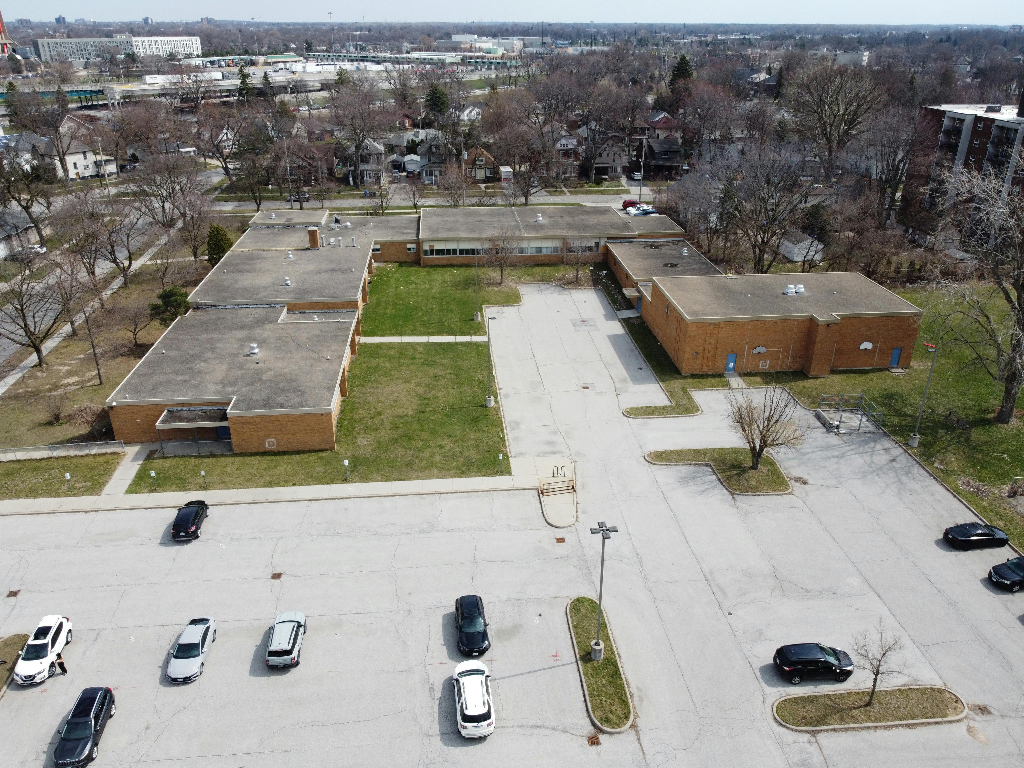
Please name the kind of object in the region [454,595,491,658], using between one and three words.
car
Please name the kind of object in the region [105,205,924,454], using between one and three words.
building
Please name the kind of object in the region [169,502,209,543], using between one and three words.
car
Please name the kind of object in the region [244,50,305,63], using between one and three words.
building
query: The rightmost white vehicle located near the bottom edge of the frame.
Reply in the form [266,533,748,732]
[453,659,495,739]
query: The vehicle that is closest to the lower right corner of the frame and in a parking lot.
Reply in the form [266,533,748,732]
[992,561,1024,592]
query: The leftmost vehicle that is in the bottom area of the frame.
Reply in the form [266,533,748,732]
[12,617,71,688]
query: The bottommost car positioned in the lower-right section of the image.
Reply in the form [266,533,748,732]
[771,642,858,684]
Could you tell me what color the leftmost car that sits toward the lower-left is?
white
